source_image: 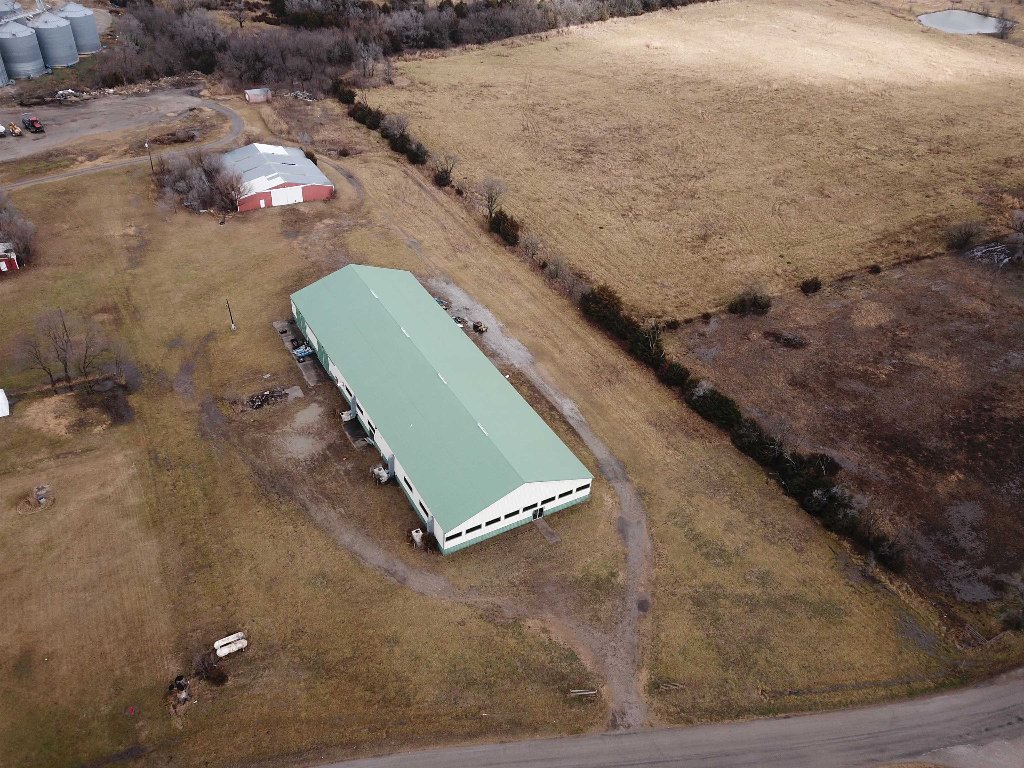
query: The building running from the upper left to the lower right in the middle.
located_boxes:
[288,263,595,556]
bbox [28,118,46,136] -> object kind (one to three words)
work vehicle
